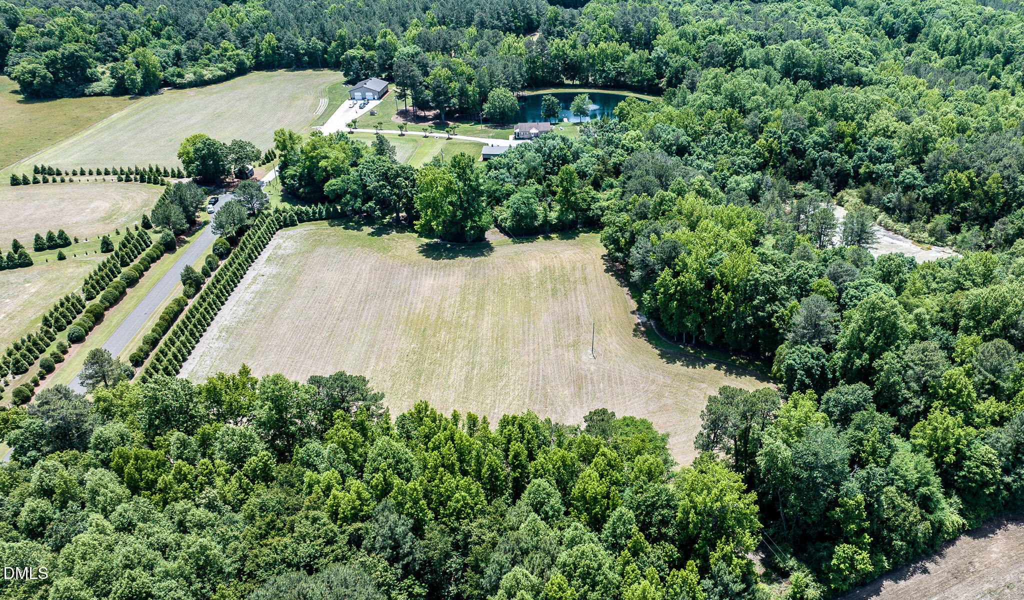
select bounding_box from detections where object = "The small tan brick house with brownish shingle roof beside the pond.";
[512,121,551,139]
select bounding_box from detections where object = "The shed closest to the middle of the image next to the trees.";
[481,146,521,161]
